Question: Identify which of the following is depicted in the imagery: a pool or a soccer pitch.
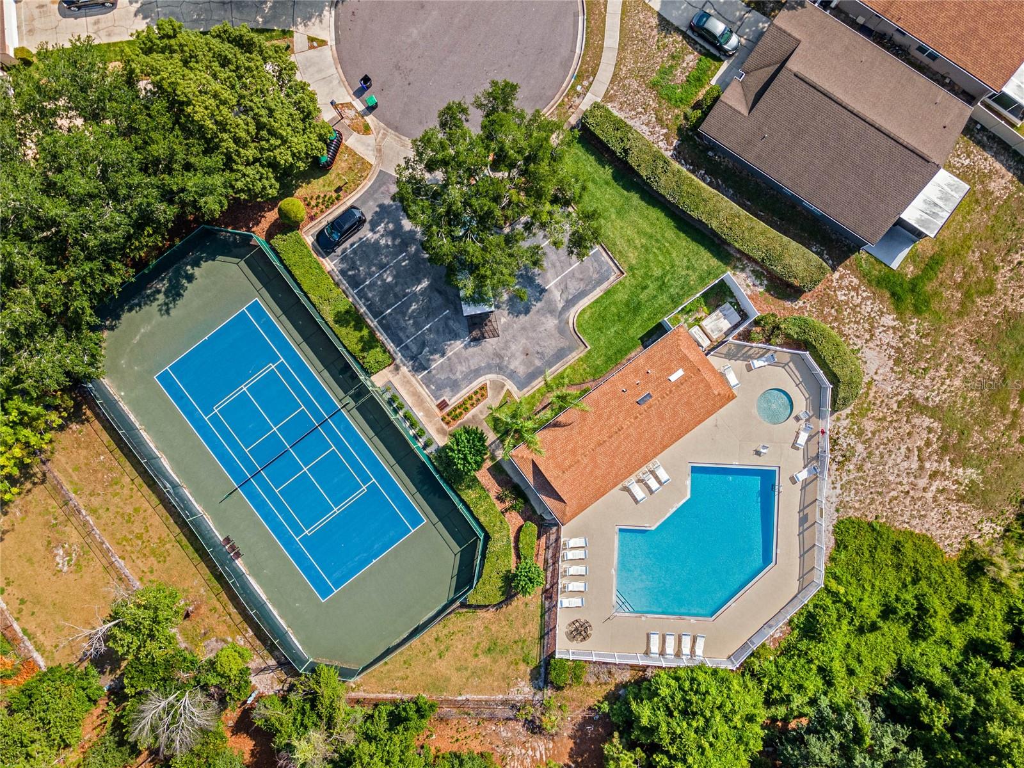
pool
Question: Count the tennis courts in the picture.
1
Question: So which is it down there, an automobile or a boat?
automobile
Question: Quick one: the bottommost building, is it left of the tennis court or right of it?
right of it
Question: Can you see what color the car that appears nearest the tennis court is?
black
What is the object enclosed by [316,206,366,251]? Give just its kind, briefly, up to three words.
car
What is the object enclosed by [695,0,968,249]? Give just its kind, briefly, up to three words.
house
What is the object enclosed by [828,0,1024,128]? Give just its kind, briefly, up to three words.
house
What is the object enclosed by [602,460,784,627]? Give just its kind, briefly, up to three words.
swimming pool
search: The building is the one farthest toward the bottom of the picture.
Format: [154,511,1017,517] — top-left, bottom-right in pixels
[510,325,735,526]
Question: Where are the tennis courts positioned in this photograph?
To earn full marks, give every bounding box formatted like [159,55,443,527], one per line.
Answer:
[101,235,484,664]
